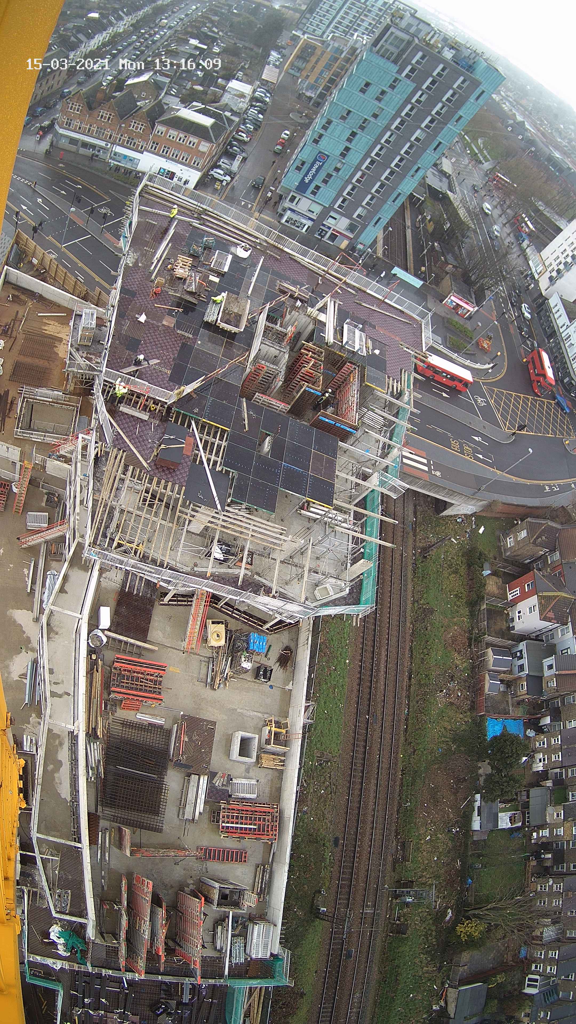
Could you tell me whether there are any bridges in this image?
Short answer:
Yes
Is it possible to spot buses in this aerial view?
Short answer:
Yes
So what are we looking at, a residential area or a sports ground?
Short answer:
residential area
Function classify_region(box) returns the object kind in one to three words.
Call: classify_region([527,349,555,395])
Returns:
bus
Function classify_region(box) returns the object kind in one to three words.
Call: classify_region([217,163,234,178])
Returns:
car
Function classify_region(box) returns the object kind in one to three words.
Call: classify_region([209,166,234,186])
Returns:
car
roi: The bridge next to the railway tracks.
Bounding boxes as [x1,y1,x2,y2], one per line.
[386,464,492,515]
